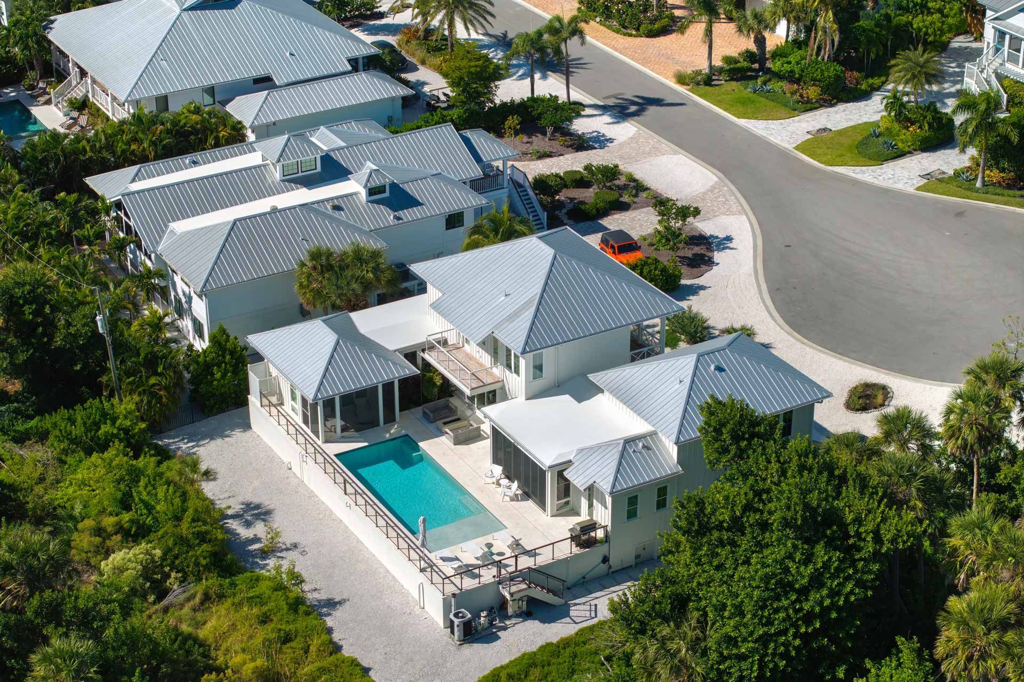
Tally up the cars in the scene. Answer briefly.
2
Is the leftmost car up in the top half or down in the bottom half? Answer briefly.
top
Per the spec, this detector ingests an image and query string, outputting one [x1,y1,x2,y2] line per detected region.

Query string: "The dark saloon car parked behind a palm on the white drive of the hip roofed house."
[376,45,413,70]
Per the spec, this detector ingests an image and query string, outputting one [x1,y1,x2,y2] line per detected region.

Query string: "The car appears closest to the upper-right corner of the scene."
[598,226,647,266]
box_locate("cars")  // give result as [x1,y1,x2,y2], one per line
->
[376,45,413,70]
[598,226,647,266]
